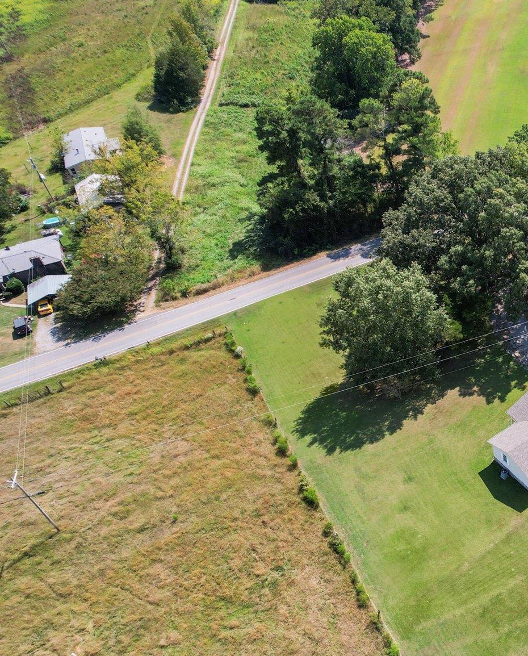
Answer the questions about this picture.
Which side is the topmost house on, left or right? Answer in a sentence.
It is on the left.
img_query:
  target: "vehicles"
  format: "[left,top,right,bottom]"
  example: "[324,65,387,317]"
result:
[11,316,30,333]
[35,301,52,318]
